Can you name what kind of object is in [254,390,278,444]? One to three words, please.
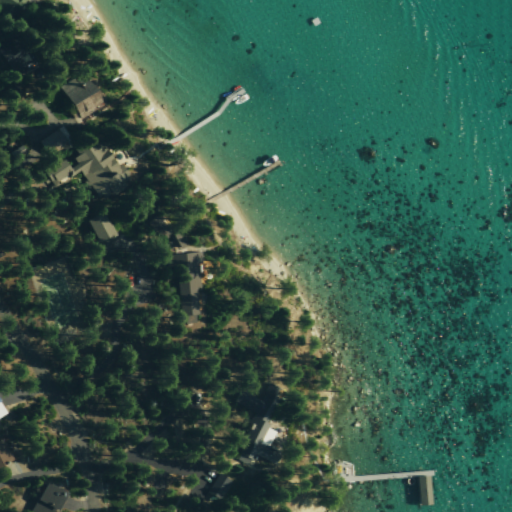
house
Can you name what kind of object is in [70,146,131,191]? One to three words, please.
house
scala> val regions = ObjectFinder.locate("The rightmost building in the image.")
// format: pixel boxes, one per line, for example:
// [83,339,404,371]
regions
[418,476,434,506]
